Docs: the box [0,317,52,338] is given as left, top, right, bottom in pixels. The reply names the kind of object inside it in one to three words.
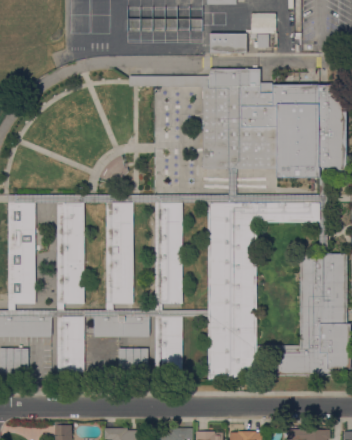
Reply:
building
